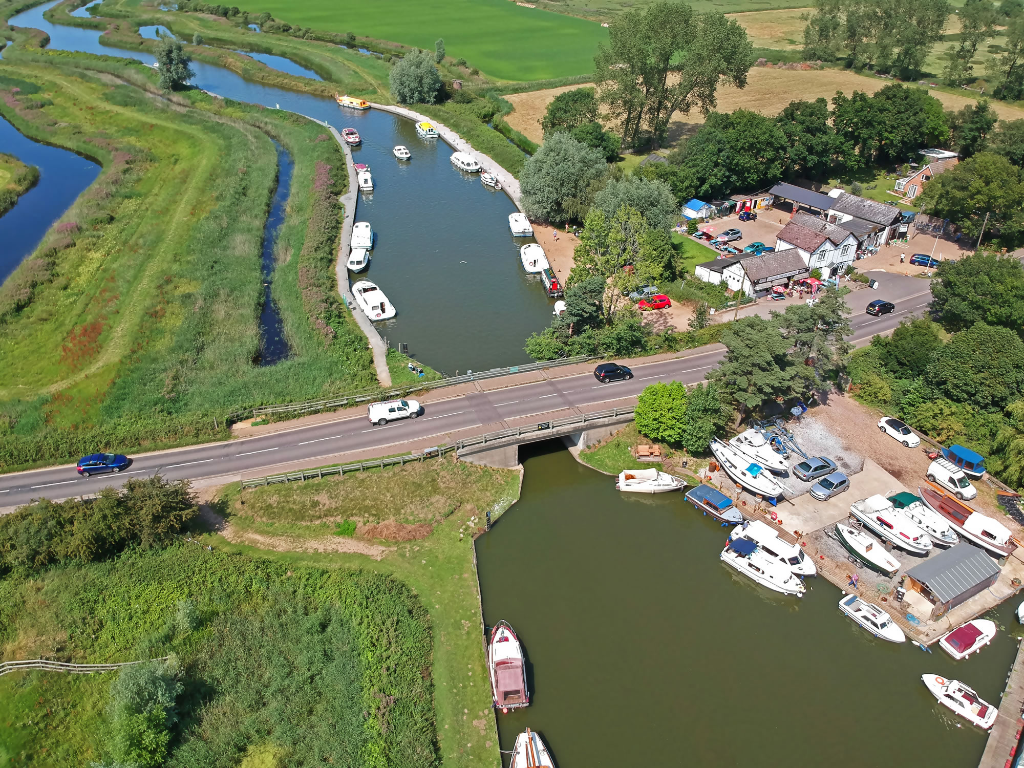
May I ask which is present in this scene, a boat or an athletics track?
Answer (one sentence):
Of the two, only a boat appears.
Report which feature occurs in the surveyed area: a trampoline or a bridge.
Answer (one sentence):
Looking from above, you can make out a bridge.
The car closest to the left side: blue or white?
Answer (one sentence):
The color of the car closest to the left side is blue.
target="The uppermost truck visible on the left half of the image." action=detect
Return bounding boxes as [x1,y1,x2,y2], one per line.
[366,396,421,421]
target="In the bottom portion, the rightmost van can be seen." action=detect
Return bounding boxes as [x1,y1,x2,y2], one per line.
[927,456,982,498]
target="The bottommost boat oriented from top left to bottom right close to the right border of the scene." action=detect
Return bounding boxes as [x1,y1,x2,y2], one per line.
[918,675,999,737]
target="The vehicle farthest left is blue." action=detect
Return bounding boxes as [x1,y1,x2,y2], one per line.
[72,450,126,474]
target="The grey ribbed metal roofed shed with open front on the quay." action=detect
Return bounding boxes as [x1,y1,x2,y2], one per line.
[889,542,1001,627]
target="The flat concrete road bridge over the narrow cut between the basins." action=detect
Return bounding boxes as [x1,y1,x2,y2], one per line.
[442,355,643,465]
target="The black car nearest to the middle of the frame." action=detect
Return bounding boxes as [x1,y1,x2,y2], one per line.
[594,362,634,380]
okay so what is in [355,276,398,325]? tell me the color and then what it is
white boat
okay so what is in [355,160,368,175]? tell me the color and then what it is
pink boat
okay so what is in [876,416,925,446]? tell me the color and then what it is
white car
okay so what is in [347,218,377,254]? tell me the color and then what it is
white boat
